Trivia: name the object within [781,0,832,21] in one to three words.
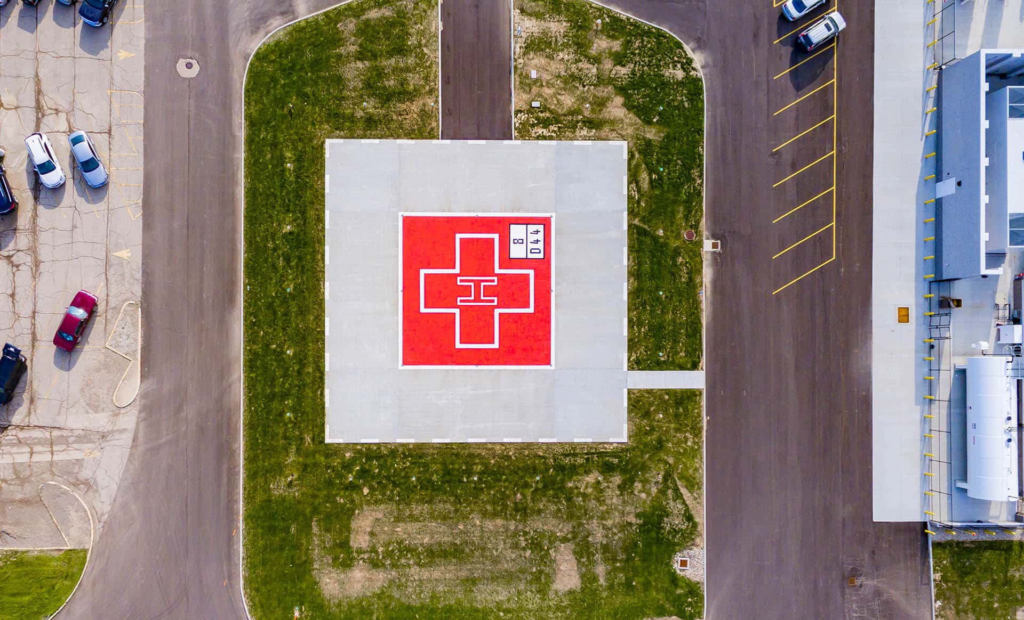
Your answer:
car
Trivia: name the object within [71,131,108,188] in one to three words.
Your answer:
car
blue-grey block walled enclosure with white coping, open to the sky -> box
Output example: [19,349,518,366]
[936,49,1024,281]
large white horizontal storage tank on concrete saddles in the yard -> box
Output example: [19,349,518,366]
[956,352,1024,499]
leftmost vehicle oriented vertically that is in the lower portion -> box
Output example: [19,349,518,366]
[0,348,25,402]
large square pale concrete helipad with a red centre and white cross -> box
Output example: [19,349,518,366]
[326,139,628,442]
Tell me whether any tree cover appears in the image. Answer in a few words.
No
